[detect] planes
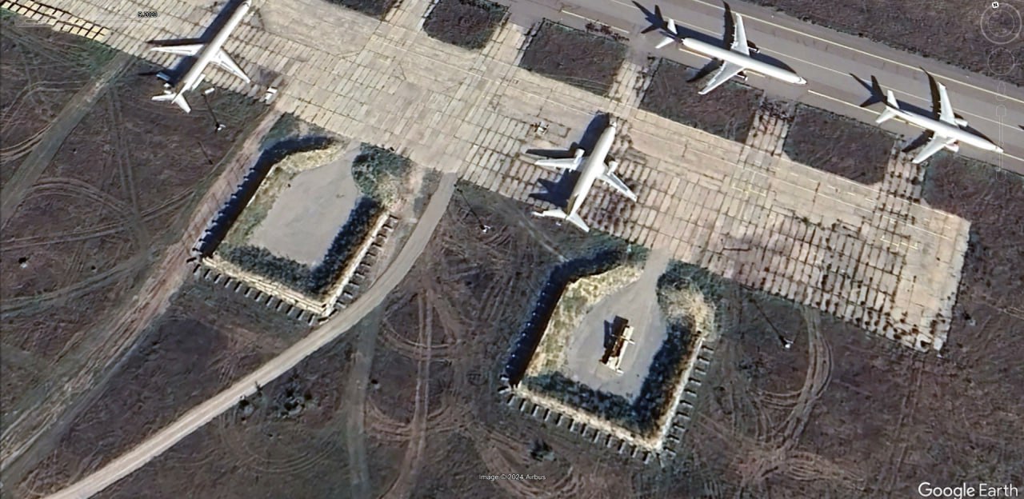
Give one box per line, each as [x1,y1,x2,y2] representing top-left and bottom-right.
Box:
[533,121,637,232]
[148,0,251,111]
[878,81,1005,163]
[656,14,808,93]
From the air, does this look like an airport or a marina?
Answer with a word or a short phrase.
airport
